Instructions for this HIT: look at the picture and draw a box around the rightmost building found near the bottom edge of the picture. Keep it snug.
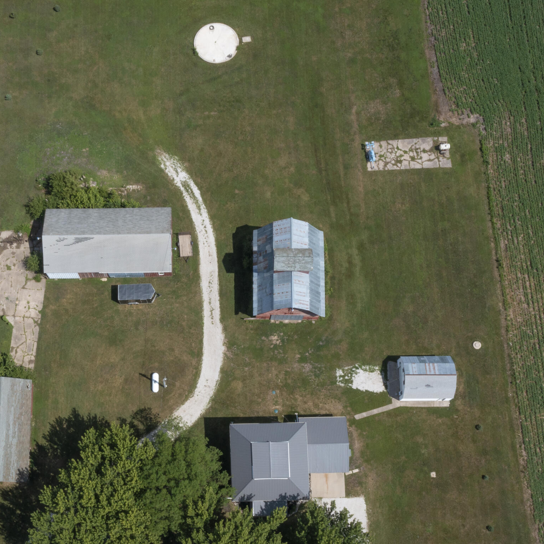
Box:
[229,408,349,517]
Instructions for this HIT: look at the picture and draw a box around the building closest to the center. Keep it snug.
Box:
[253,217,326,321]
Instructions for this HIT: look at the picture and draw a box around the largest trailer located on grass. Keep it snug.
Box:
[118,284,159,305]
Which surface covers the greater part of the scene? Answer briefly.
grass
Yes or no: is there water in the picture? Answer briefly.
No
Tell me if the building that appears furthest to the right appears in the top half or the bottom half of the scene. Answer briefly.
bottom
